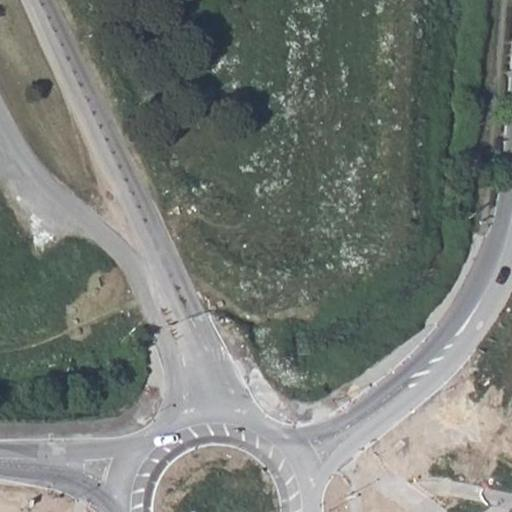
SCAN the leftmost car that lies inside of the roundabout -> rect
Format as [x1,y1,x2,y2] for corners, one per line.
[154,434,180,447]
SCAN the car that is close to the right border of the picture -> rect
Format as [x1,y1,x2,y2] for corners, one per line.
[496,266,510,284]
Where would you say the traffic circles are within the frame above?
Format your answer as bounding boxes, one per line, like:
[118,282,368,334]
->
[113,405,321,512]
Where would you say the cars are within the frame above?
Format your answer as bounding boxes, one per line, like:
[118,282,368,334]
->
[154,434,180,447]
[496,266,510,284]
